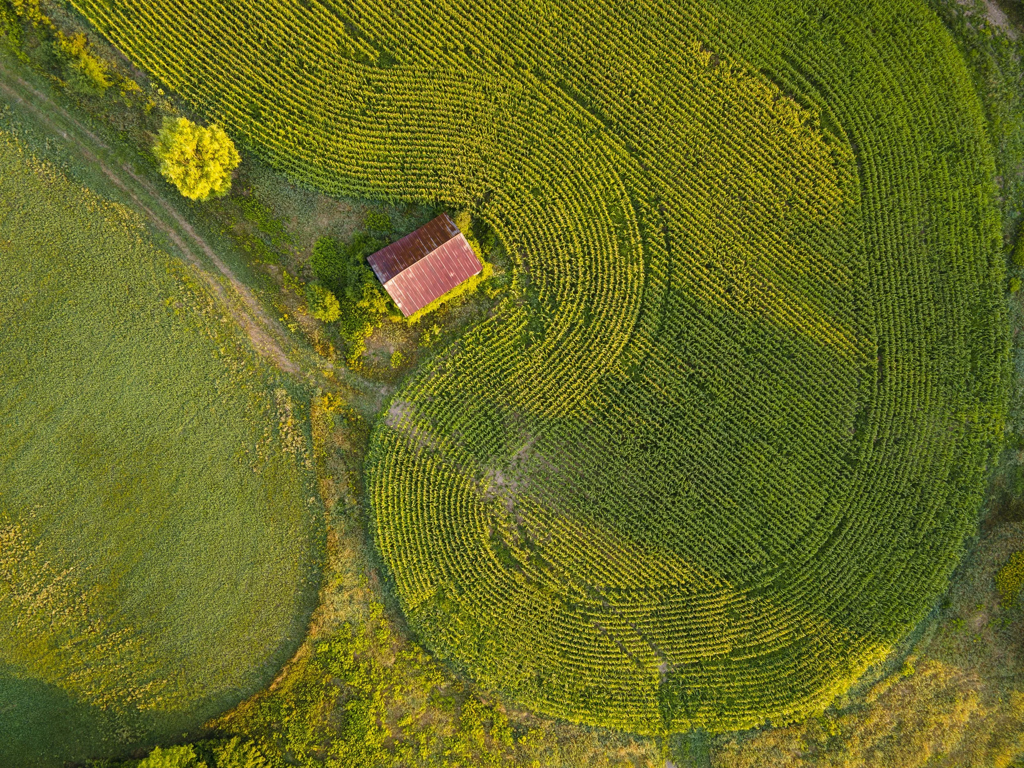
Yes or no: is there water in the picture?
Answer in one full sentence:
No, no water is visible.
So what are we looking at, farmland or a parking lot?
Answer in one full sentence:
What you see here is farmland.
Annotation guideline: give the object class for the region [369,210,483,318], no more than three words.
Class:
barn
